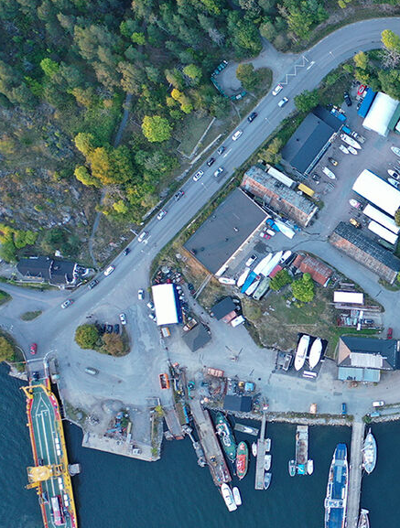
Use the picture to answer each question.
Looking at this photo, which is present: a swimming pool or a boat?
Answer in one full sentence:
This aerial view contains a boat.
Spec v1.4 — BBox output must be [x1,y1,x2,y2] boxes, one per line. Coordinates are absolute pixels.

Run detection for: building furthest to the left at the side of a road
[16,256,59,295]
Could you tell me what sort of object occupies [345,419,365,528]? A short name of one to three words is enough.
pier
